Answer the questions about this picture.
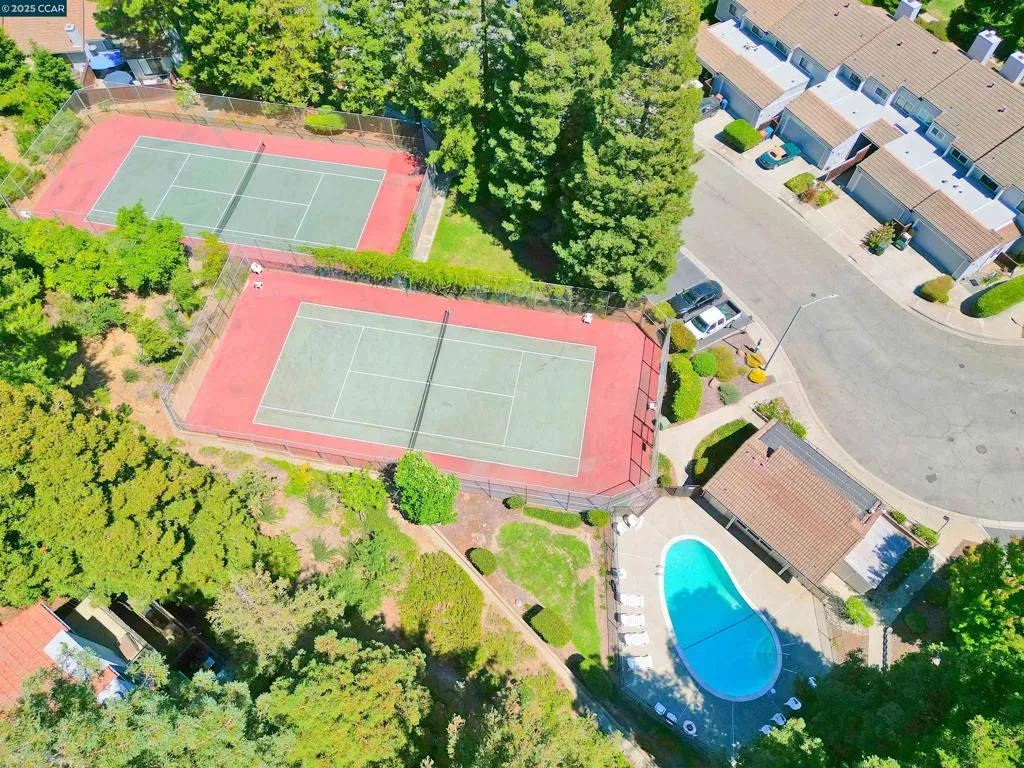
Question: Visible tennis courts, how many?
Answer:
2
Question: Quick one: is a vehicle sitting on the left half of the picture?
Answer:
No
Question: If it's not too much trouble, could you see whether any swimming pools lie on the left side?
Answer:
No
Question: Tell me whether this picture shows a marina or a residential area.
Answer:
residential area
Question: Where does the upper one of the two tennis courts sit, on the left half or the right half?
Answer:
left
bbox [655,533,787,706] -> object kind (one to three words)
swimming pool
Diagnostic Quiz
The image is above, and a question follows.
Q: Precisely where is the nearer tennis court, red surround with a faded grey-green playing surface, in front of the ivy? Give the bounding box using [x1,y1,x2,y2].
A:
[186,267,660,514]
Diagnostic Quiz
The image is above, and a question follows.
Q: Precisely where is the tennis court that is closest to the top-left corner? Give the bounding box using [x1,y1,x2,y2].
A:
[33,114,429,283]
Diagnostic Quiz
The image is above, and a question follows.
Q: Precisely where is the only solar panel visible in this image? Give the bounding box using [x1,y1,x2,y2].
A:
[766,424,874,514]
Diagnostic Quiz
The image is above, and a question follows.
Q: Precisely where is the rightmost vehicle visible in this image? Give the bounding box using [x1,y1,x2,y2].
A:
[755,137,804,165]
